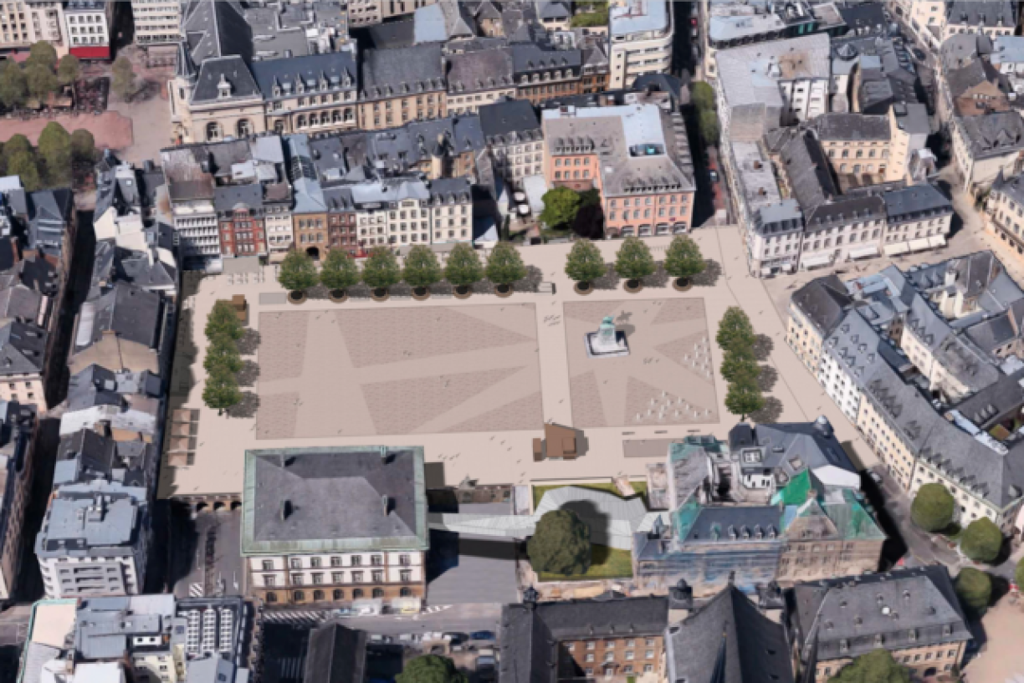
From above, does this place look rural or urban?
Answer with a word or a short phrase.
urban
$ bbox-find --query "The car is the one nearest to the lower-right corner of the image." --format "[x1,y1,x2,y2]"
[1003,578,1018,590]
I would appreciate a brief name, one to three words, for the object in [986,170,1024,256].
house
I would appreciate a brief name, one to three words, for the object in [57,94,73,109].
umbrella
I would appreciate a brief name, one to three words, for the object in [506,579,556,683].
building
